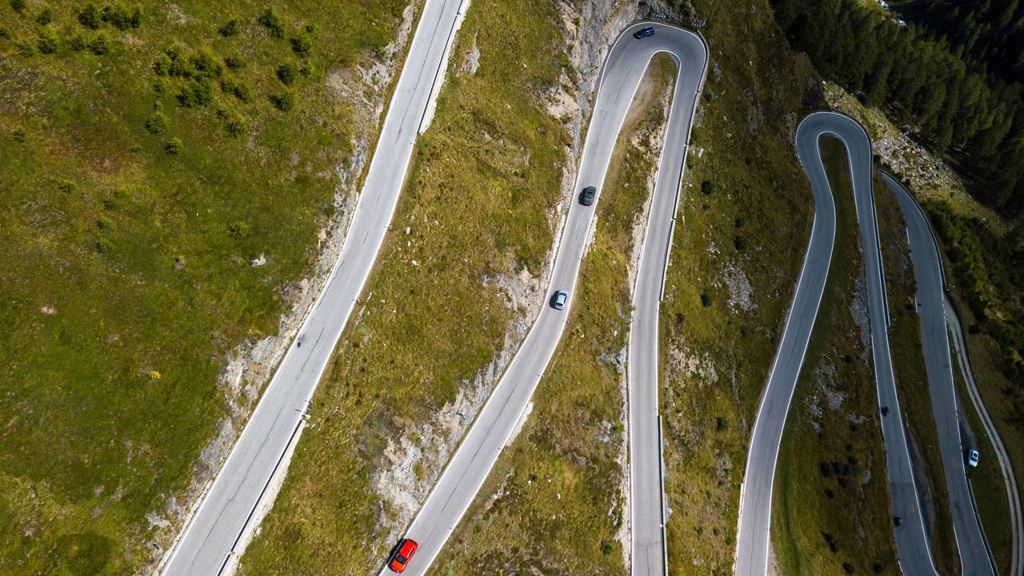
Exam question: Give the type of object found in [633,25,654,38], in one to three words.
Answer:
vehicle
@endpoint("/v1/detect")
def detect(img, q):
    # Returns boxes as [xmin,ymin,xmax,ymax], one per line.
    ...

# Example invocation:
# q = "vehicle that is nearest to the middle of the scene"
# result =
[552,290,567,310]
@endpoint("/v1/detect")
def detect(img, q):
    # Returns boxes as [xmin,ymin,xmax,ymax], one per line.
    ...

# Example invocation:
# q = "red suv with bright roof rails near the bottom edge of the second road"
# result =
[389,538,415,571]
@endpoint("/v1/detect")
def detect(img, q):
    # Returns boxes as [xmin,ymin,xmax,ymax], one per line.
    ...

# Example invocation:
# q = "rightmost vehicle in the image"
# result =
[966,448,979,469]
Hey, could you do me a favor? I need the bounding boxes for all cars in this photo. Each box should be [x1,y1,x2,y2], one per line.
[552,290,567,310]
[389,538,415,571]
[581,187,594,205]
[966,448,979,469]
[633,25,654,38]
